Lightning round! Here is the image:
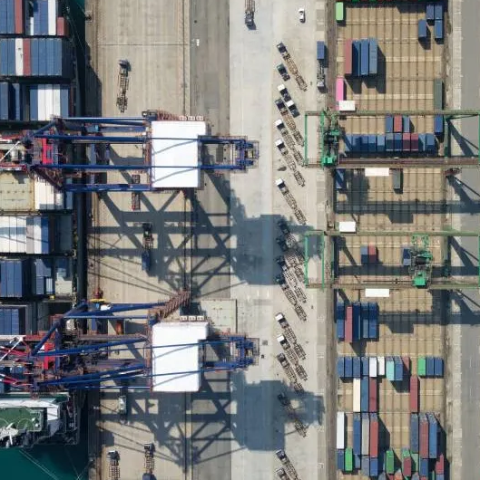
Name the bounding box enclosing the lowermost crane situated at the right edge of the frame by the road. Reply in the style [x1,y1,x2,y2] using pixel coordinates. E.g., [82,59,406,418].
[302,219,480,296]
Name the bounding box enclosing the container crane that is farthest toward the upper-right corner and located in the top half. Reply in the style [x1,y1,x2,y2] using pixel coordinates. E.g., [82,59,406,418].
[302,99,480,176]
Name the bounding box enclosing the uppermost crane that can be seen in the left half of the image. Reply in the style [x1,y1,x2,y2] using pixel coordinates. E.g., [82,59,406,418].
[0,99,269,204]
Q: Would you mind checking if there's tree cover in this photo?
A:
No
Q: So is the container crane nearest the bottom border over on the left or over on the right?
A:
left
